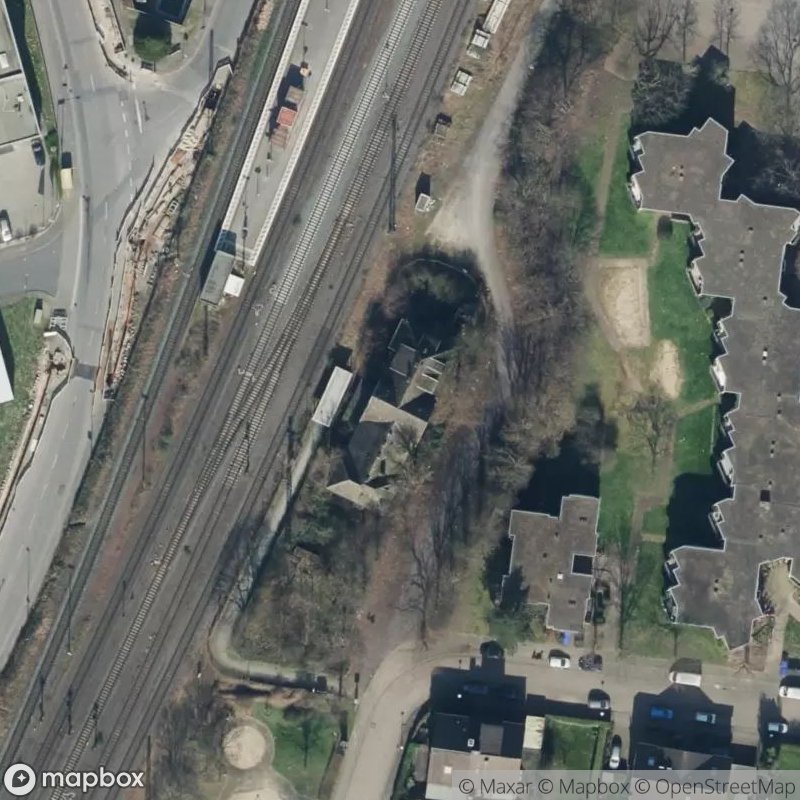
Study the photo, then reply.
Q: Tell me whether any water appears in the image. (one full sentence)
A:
No, there's no water in this view.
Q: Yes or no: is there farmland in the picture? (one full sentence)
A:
No, there is no farmland in the image.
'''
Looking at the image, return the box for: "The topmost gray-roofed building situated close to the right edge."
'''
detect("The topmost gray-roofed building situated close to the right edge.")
[628,116,800,652]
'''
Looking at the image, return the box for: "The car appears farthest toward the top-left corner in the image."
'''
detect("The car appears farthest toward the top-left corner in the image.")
[32,141,45,164]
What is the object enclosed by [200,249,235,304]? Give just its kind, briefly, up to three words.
building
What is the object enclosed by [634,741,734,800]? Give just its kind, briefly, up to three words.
house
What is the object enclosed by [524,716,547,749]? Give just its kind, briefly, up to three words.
building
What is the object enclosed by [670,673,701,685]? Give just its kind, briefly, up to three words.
vehicle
